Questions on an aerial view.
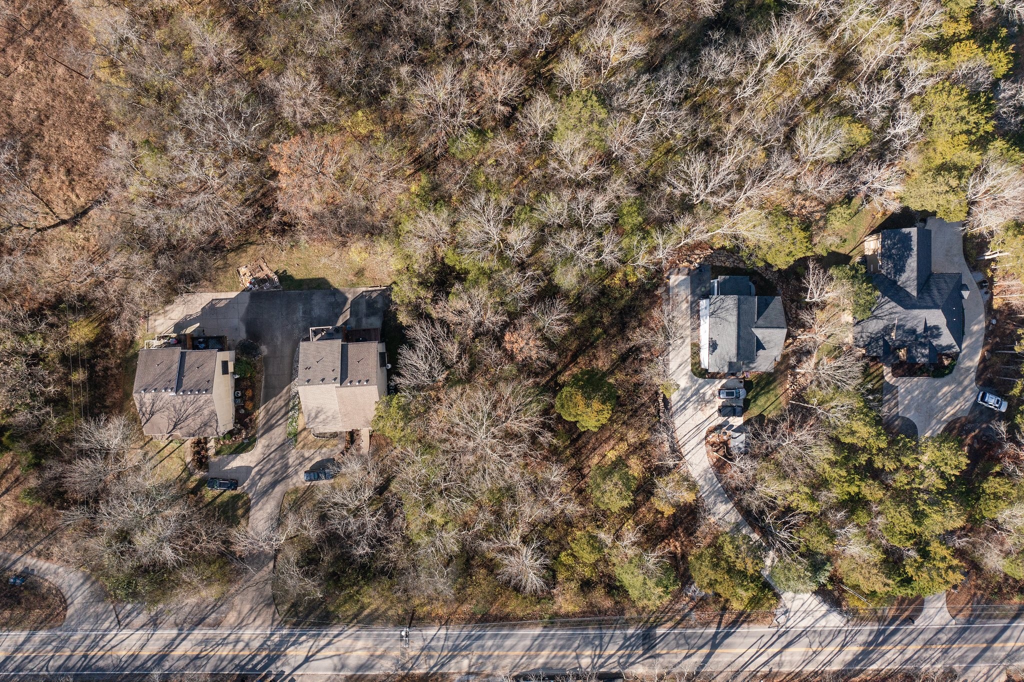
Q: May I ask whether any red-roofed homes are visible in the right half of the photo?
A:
No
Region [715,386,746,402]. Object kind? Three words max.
car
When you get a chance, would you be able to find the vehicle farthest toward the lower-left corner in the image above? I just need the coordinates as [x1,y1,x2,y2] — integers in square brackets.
[209,476,241,491]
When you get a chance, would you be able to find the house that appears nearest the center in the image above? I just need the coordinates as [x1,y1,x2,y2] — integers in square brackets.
[298,325,386,433]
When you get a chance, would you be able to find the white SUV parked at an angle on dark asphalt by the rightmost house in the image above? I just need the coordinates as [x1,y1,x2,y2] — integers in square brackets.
[972,391,1005,410]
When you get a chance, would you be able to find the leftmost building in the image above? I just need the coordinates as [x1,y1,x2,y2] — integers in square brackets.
[133,333,236,440]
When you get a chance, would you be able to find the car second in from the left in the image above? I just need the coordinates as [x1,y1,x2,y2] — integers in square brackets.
[303,467,335,482]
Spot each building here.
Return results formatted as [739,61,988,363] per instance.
[133,333,236,440]
[841,227,969,364]
[700,276,787,372]
[298,325,386,433]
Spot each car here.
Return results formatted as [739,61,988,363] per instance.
[713,402,743,417]
[303,467,335,482]
[715,386,746,402]
[209,476,241,491]
[972,391,1005,410]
